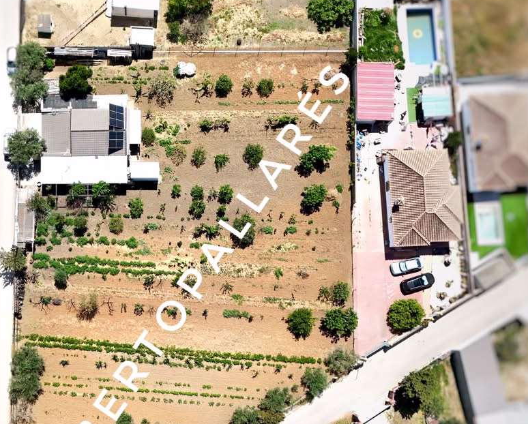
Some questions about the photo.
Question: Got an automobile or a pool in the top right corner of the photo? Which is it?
pool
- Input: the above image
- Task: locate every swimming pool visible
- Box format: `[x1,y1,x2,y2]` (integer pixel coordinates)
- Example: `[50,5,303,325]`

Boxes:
[475,202,505,248]
[398,1,446,76]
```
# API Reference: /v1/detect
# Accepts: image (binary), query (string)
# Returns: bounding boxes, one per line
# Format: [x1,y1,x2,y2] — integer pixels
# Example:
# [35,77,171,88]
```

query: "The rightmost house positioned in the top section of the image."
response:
[461,91,528,191]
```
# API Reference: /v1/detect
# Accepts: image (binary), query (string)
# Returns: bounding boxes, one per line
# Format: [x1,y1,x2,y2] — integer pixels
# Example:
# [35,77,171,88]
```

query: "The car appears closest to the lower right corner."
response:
[399,274,434,294]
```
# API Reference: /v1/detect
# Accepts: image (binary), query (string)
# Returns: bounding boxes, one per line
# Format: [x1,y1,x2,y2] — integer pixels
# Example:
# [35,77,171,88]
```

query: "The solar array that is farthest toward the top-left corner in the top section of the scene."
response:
[109,104,124,128]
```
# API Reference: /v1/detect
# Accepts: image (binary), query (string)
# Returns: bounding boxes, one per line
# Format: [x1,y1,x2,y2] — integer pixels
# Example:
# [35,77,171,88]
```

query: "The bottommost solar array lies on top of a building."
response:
[109,134,124,150]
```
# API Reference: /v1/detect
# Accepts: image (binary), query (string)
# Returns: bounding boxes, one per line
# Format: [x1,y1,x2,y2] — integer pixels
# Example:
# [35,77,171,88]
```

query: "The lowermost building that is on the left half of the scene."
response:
[18,202,36,242]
